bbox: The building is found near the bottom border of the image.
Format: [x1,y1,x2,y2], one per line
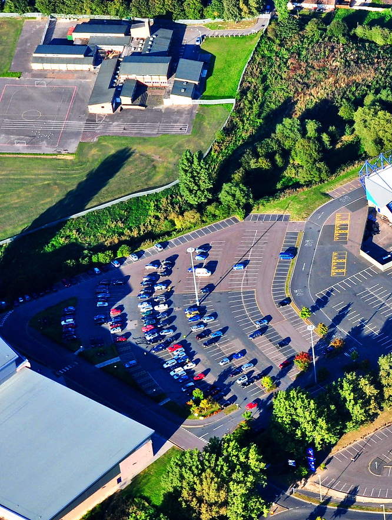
[0,366,157,520]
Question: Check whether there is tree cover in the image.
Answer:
Yes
